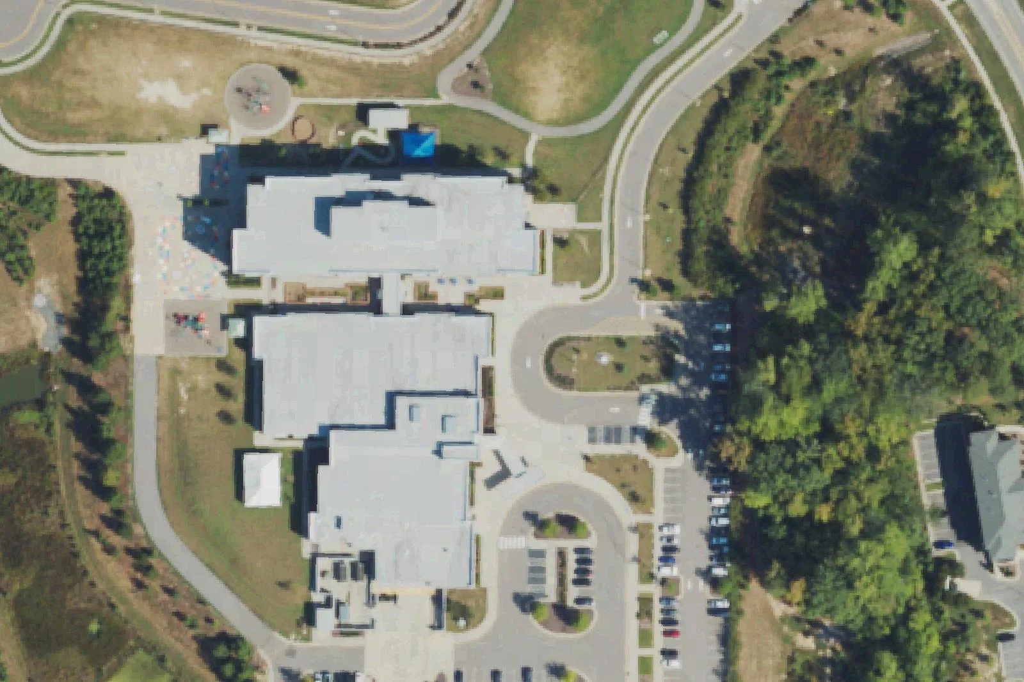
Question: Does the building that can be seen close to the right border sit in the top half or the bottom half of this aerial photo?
bottom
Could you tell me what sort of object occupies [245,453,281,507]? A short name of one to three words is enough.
building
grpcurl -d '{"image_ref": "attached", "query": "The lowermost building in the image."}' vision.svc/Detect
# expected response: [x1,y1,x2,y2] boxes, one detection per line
[316,607,333,630]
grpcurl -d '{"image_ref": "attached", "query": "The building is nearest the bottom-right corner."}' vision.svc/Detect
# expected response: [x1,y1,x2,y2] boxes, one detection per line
[969,428,1024,563]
